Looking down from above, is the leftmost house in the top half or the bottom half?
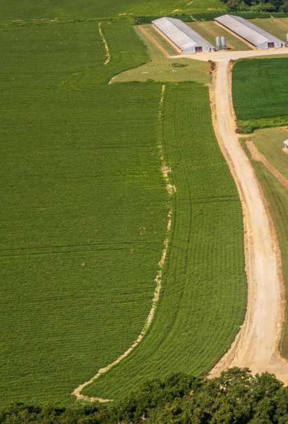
top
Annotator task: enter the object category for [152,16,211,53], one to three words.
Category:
house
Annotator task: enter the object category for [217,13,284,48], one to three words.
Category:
house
